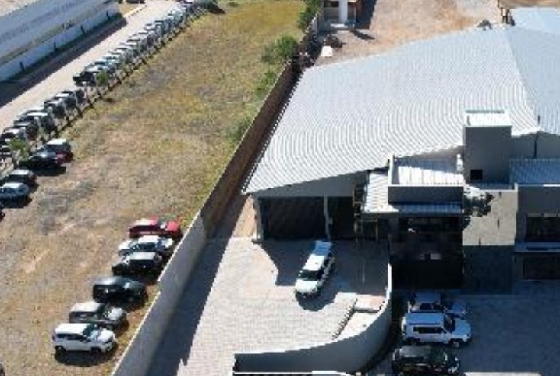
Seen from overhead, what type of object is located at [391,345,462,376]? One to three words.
car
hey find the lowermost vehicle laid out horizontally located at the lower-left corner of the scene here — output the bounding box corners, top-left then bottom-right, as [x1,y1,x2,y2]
[45,320,123,356]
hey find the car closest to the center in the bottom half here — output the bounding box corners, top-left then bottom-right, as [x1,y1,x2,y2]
[293,239,338,290]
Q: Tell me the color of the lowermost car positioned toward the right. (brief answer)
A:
black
